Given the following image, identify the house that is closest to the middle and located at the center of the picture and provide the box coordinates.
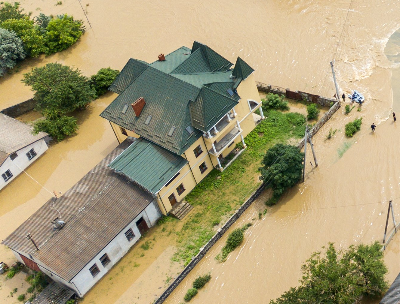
[97,42,273,218]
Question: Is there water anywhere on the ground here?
Yes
